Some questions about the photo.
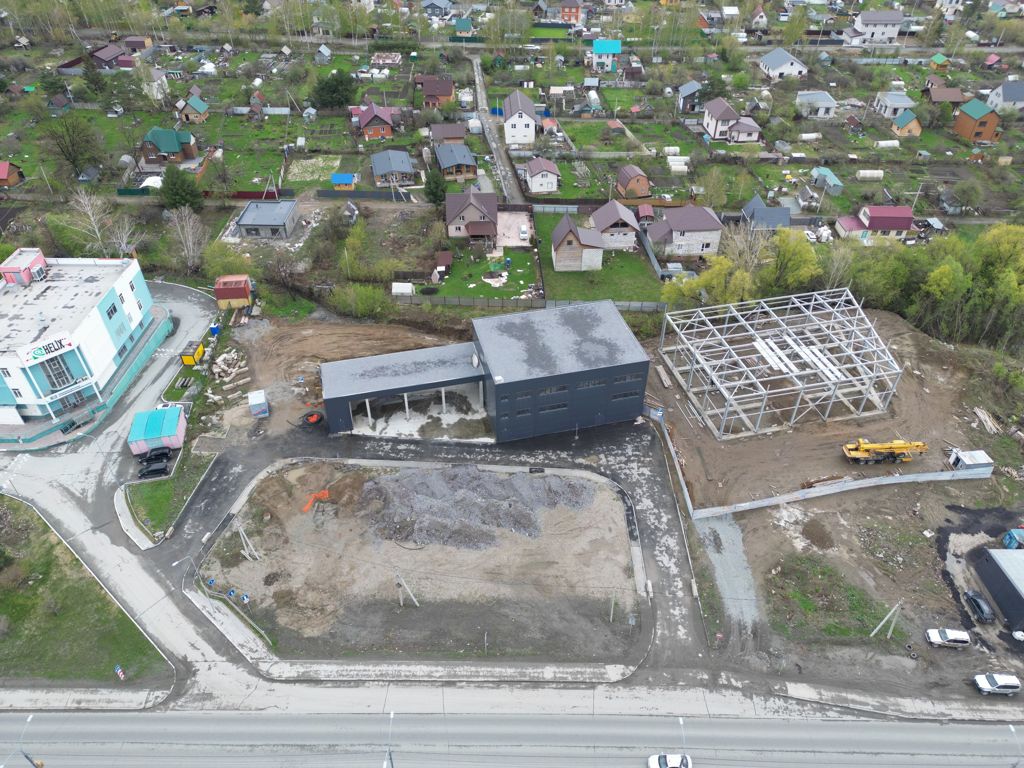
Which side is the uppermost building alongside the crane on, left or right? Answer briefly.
right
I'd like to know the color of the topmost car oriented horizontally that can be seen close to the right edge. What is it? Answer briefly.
white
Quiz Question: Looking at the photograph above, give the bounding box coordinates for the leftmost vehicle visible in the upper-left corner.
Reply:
[104,30,123,43]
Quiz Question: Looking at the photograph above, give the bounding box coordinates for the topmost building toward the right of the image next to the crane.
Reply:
[657,285,904,440]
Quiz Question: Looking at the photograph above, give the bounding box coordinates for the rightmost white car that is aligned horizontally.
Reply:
[972,671,1024,698]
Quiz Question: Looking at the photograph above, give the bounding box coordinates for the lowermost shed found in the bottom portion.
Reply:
[960,543,1024,662]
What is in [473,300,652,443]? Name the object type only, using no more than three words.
building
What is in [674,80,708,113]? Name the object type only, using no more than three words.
house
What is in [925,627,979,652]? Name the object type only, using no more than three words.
car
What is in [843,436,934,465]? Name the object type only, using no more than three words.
crane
